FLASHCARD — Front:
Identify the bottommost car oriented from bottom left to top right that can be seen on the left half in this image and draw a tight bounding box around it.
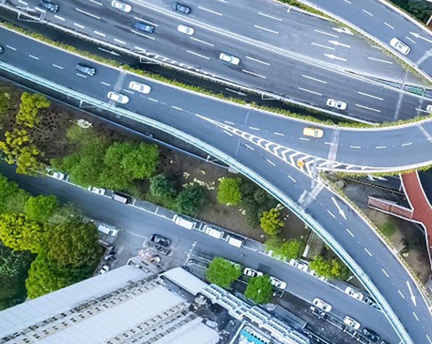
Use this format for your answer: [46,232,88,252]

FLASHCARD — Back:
[93,259,114,277]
